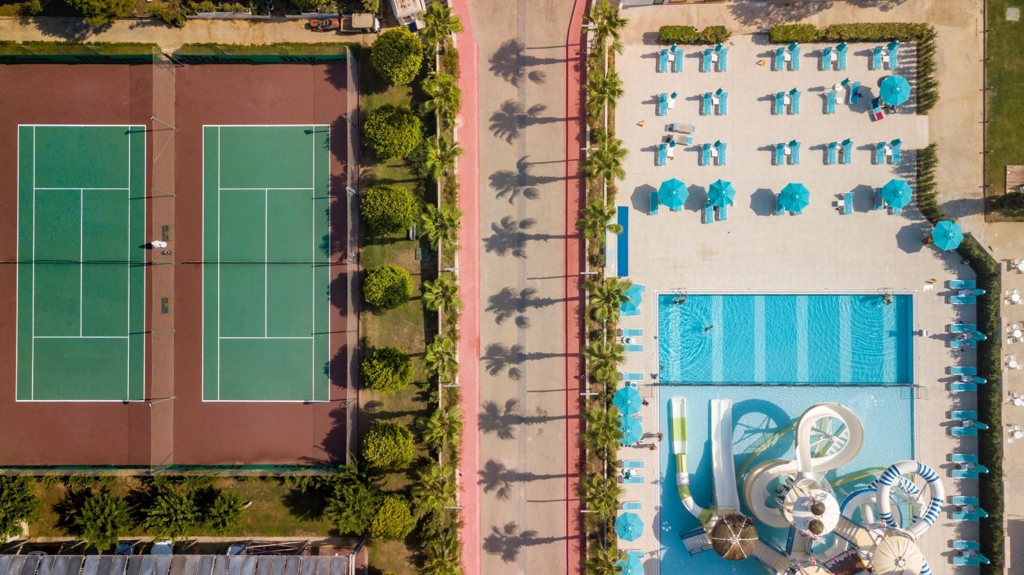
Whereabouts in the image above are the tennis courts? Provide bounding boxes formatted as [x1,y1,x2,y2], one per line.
[172,63,358,465]
[0,63,175,465]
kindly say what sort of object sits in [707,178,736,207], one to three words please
umbrella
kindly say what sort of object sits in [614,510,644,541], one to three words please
umbrella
